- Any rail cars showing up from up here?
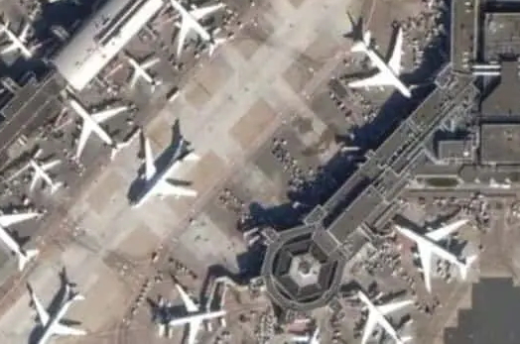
No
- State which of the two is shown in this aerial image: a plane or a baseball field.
plane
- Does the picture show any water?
No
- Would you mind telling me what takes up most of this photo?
paved ground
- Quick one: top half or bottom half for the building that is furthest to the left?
top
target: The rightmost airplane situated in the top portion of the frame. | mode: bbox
[346,33,409,96]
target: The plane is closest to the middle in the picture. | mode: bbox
[131,142,198,208]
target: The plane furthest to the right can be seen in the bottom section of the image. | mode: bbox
[394,218,473,288]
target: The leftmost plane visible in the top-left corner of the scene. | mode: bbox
[0,22,30,57]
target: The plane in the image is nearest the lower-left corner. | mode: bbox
[35,289,91,344]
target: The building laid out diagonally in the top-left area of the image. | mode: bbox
[55,0,161,87]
